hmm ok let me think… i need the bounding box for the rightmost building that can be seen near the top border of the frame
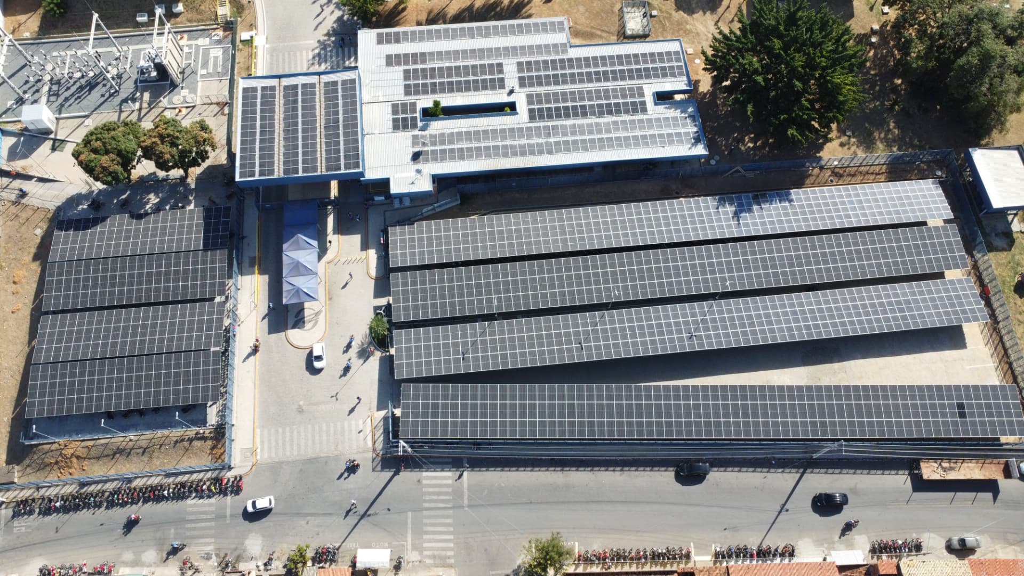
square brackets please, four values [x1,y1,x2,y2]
[357,16,710,208]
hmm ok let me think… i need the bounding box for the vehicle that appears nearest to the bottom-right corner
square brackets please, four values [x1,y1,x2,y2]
[947,537,986,554]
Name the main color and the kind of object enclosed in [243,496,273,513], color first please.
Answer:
white car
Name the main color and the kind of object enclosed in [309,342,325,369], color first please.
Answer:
white car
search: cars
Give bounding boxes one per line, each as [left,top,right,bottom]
[675,462,711,479]
[309,342,325,369]
[812,493,852,510]
[243,496,273,513]
[947,537,986,554]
